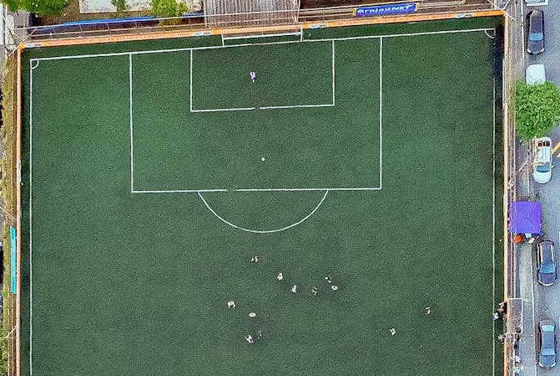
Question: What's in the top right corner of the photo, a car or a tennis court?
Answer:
car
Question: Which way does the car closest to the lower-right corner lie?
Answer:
up and down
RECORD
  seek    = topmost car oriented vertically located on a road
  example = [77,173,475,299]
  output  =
[524,10,546,56]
